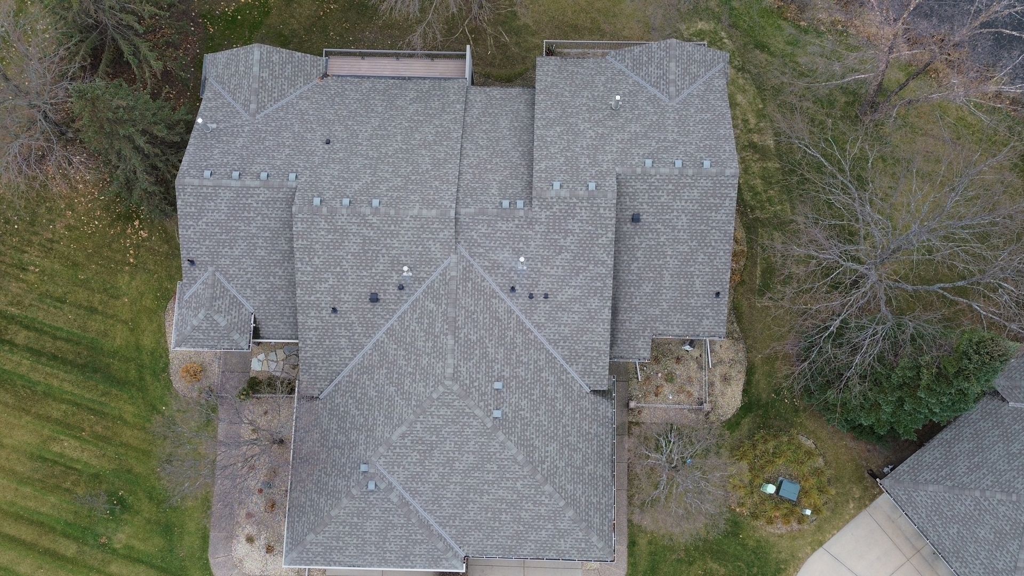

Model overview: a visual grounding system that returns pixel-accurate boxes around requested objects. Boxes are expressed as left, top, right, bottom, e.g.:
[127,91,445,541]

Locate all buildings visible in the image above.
[871,344,1024,576]
[168,38,739,572]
